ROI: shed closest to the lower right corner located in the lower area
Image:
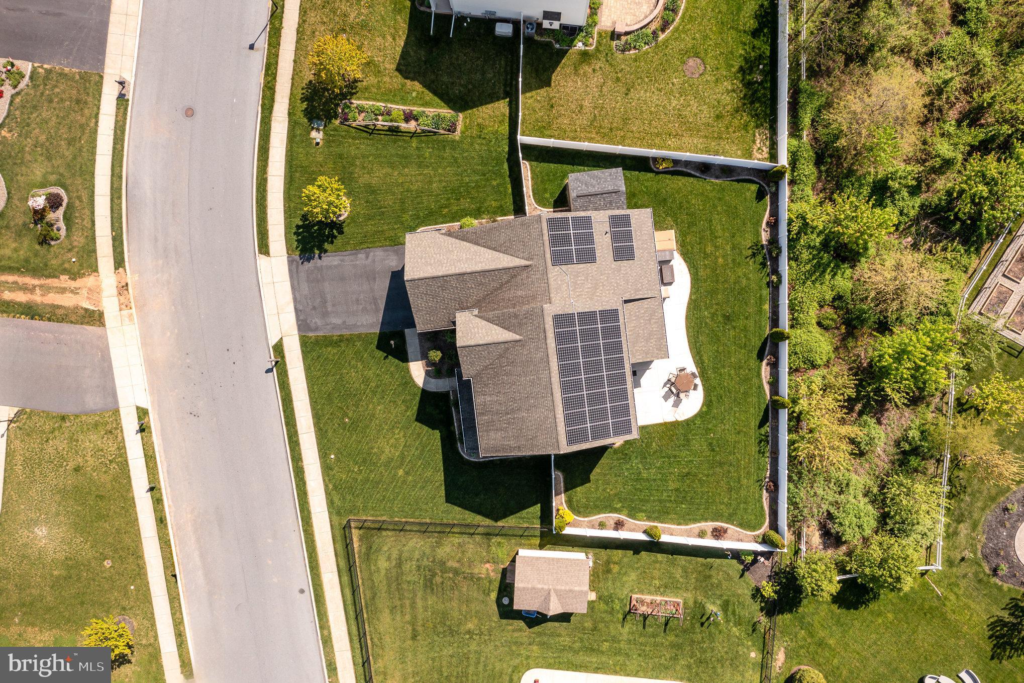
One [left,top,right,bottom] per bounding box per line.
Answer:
[513,549,589,618]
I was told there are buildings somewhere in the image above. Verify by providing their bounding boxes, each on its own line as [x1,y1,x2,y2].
[513,549,589,618]
[404,208,669,457]
[430,0,594,38]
